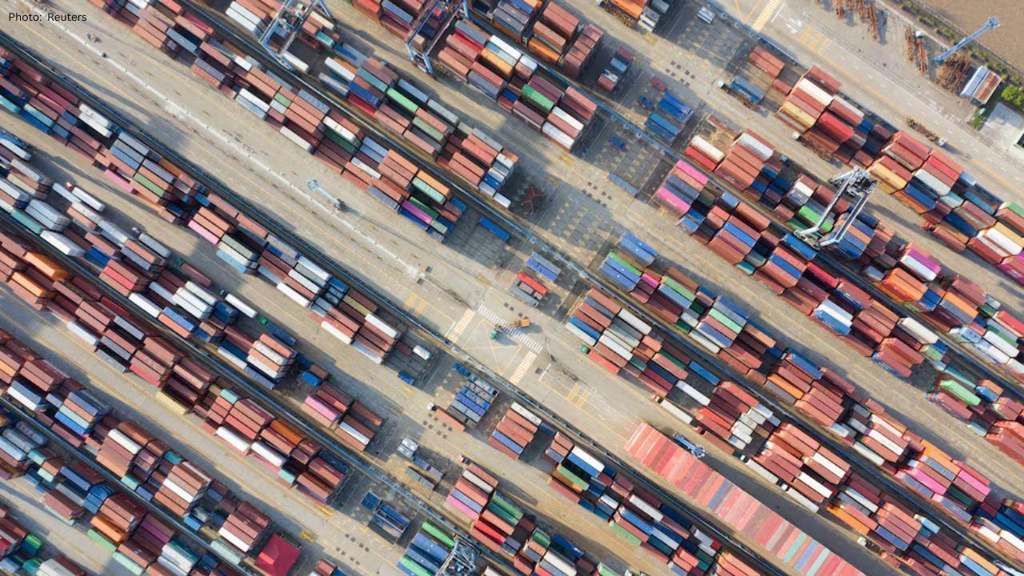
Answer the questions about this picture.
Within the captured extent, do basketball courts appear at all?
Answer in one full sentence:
No, I can't see a single basketball court in this photo.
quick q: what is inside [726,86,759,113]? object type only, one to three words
shipping container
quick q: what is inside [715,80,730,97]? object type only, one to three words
vehicle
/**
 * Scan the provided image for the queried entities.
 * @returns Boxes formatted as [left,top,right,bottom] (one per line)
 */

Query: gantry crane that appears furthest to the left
[257,0,341,74]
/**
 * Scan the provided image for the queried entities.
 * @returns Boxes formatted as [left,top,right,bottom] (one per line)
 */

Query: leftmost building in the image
[254,532,305,576]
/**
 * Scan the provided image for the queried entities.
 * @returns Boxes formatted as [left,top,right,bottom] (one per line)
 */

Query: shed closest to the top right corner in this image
[959,66,999,108]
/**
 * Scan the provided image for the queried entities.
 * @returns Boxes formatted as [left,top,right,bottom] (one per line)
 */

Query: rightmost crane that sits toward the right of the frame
[793,166,880,251]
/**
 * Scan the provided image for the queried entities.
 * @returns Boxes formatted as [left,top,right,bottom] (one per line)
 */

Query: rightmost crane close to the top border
[399,0,465,82]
